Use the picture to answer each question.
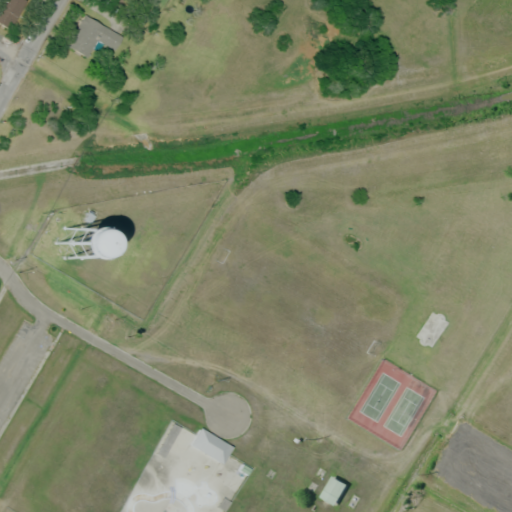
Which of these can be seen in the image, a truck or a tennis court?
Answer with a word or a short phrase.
tennis court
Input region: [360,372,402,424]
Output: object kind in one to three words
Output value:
tennis court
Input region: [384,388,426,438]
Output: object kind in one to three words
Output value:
tennis court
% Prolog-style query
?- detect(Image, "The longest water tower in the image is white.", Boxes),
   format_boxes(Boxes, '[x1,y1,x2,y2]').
[54,225,128,261]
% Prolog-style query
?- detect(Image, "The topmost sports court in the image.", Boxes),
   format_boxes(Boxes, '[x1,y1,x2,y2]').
[417,312,450,348]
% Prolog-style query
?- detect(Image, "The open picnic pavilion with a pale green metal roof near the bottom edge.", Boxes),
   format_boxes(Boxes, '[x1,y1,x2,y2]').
[317,476,346,506]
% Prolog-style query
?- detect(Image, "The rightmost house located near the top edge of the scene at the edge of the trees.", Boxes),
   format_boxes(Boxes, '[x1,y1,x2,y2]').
[72,15,122,57]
